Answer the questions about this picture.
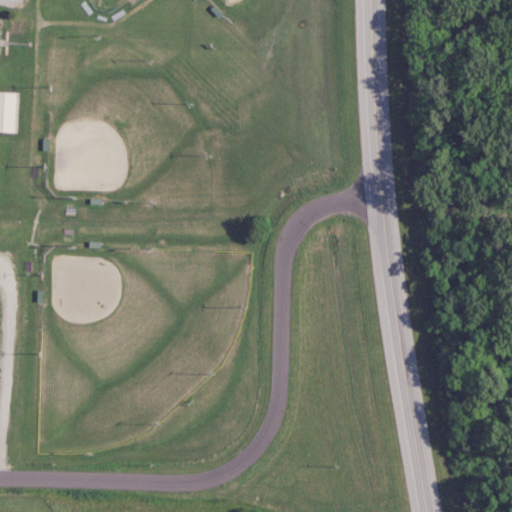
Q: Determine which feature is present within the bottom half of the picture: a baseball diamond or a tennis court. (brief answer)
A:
baseball diamond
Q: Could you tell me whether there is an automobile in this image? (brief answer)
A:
No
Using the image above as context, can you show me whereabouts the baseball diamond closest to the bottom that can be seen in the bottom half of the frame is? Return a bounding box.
[39,247,252,454]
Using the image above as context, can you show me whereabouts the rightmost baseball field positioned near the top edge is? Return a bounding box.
[211,0,290,52]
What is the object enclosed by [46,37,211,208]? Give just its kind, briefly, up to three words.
baseball field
